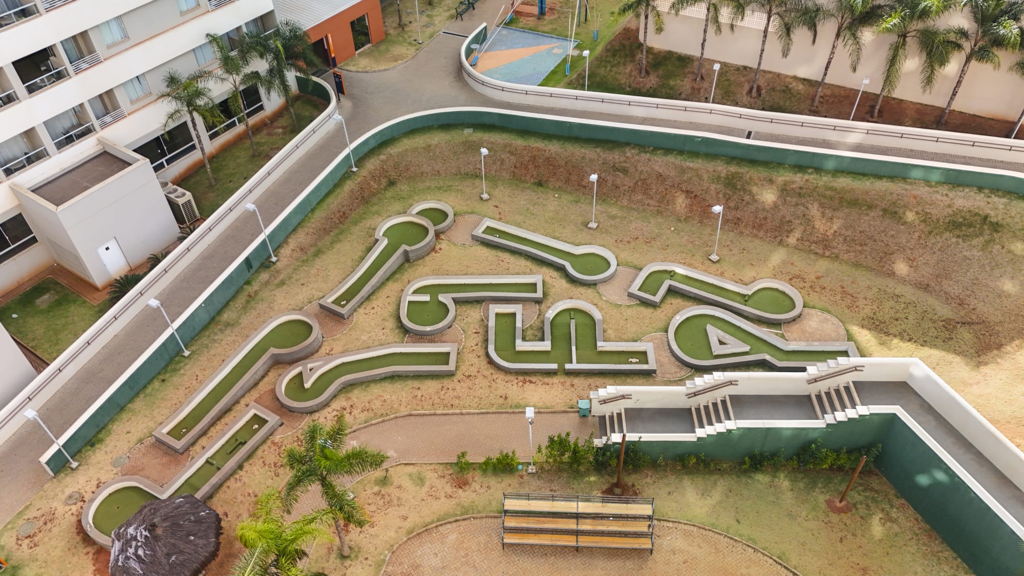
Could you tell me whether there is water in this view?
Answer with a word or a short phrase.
No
